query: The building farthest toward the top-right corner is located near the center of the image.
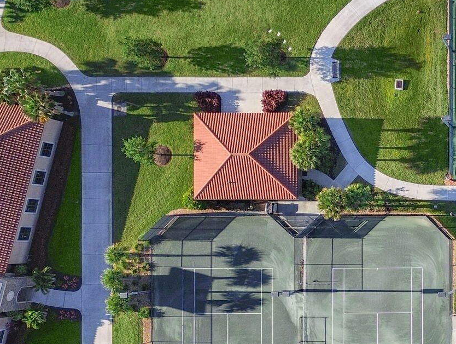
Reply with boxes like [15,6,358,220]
[194,112,302,200]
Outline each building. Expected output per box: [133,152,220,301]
[194,112,302,200]
[0,103,62,344]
